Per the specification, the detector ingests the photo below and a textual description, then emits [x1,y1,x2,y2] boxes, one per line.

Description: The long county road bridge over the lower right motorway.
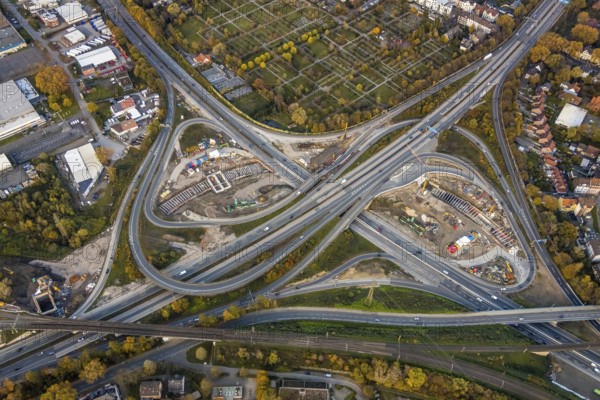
[478,303,600,327]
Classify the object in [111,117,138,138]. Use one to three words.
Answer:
house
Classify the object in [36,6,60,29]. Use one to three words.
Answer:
building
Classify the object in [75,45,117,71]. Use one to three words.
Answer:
building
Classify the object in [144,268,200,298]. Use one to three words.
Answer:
bridge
